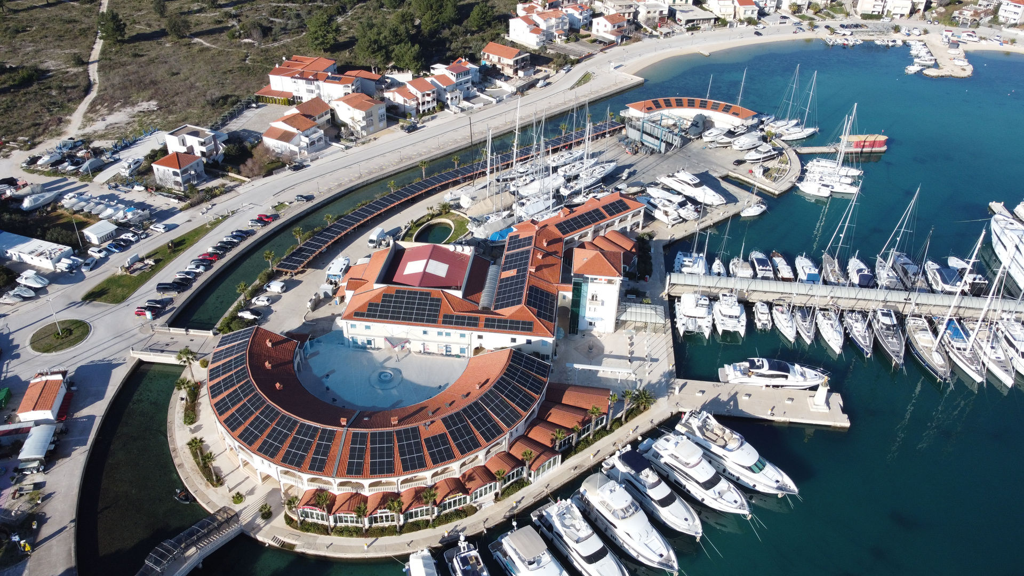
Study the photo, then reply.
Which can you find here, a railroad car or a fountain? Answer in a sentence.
Visible in the photo is a fountain.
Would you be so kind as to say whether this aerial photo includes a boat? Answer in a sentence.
Yes, a boat is visible in the scene.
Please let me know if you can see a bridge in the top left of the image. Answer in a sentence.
No, the scene shows no bridge in the top left of the image.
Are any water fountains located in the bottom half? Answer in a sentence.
Yes, a water fountain is visible in the bottom half.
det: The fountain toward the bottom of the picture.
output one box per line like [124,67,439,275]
[366,364,405,389]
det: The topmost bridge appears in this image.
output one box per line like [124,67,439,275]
[126,323,222,366]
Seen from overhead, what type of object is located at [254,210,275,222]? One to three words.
vehicle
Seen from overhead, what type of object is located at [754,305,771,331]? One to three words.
boat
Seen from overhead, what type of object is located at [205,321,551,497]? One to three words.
building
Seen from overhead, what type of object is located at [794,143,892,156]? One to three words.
pier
